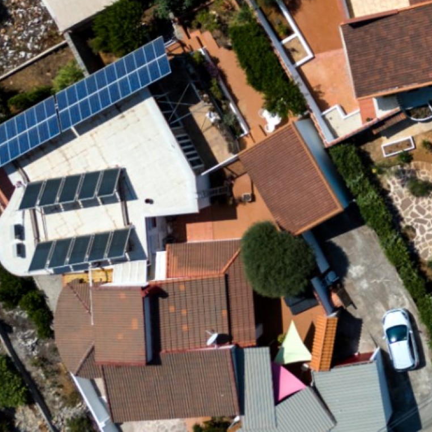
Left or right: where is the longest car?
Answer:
right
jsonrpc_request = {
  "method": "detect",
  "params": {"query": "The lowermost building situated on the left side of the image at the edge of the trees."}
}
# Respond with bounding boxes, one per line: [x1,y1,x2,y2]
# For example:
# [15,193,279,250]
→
[54,233,266,425]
